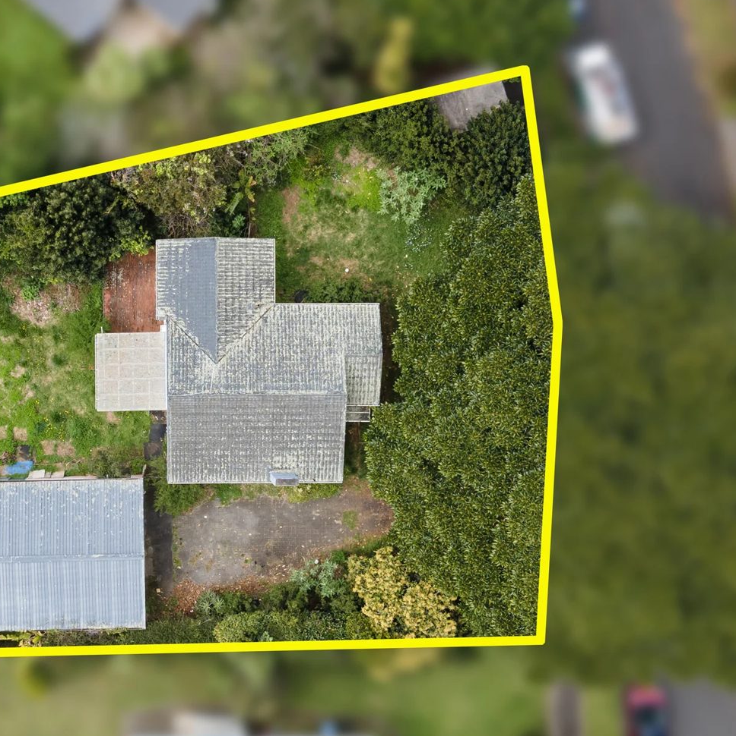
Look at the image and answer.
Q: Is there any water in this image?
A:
No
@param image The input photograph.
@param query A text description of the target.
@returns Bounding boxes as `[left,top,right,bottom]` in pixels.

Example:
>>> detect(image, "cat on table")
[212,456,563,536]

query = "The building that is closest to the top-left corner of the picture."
[26,0,132,50]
